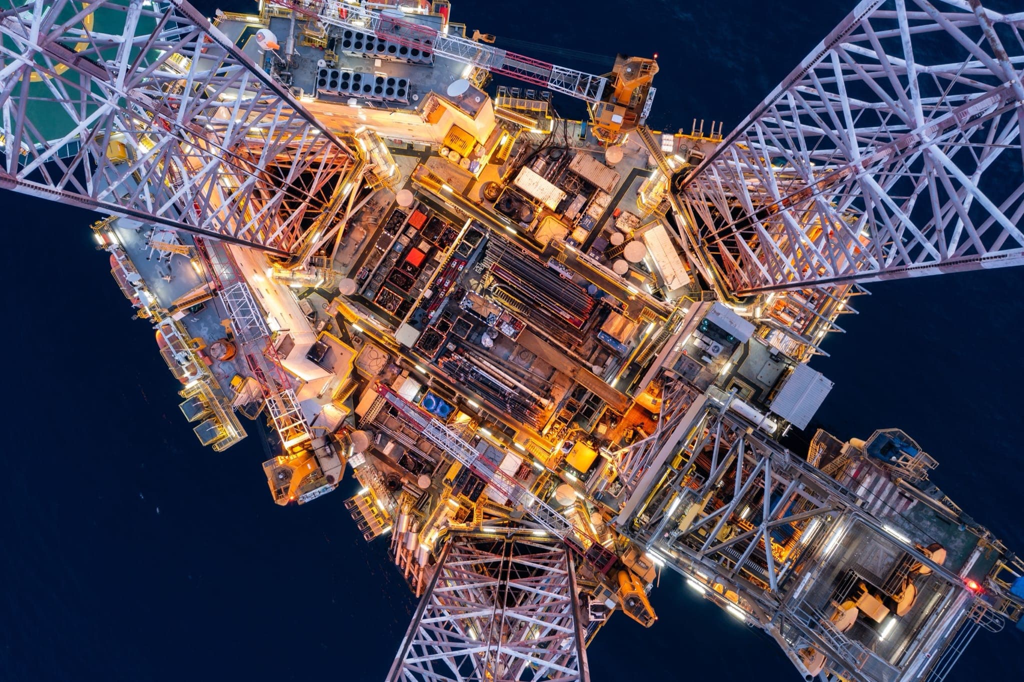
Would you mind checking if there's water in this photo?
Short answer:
Yes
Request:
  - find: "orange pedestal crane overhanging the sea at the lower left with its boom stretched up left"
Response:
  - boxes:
[146,80,351,509]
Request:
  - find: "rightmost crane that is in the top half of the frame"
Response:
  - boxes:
[266,0,662,140]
